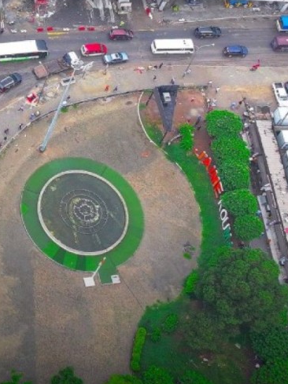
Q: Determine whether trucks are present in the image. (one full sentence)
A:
Yes, I can see a truck in this picture.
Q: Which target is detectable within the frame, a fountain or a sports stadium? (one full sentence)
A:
There is a fountain in the scene.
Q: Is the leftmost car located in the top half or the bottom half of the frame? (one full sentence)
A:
Seen from above, the leftmost car lies in the top half of the view.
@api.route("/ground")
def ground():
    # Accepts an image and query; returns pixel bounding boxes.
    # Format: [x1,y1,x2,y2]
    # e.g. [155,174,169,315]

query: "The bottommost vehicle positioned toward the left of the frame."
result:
[0,74,23,93]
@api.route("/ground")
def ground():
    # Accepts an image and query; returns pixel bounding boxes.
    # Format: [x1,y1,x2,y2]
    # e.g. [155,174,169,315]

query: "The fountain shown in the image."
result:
[21,159,146,274]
